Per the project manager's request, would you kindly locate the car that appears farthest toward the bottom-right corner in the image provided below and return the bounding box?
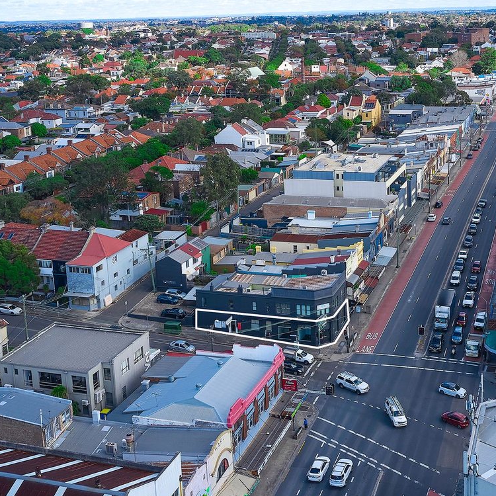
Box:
[438,410,471,428]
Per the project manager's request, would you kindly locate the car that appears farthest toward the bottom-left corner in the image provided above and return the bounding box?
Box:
[0,301,22,314]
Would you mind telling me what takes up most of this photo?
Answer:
buildings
